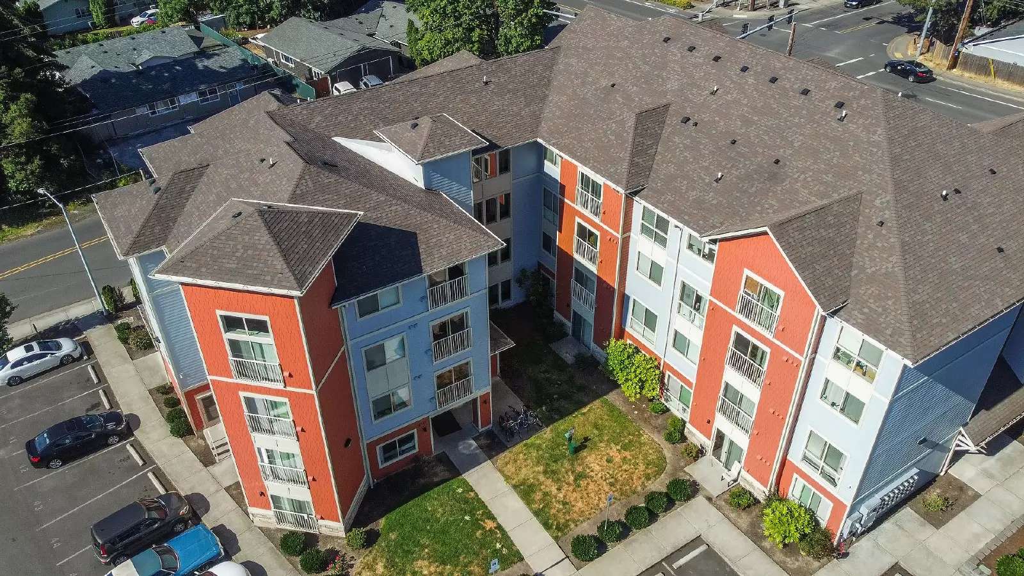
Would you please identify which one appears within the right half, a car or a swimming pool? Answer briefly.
car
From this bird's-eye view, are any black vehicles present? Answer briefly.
Yes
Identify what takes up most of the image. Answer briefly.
buildings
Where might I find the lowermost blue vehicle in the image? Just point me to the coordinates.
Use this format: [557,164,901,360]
[111,529,225,576]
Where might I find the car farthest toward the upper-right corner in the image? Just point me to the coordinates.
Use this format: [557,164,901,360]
[888,61,927,78]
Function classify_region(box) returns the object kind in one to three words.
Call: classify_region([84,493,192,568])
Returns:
car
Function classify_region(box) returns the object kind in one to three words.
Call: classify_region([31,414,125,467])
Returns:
car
